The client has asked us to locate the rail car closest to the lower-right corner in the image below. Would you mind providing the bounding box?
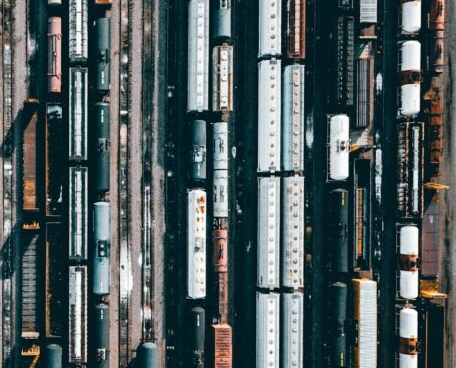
[397,301,424,368]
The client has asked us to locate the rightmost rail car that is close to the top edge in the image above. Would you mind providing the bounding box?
[423,0,440,81]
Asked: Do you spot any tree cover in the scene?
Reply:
No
